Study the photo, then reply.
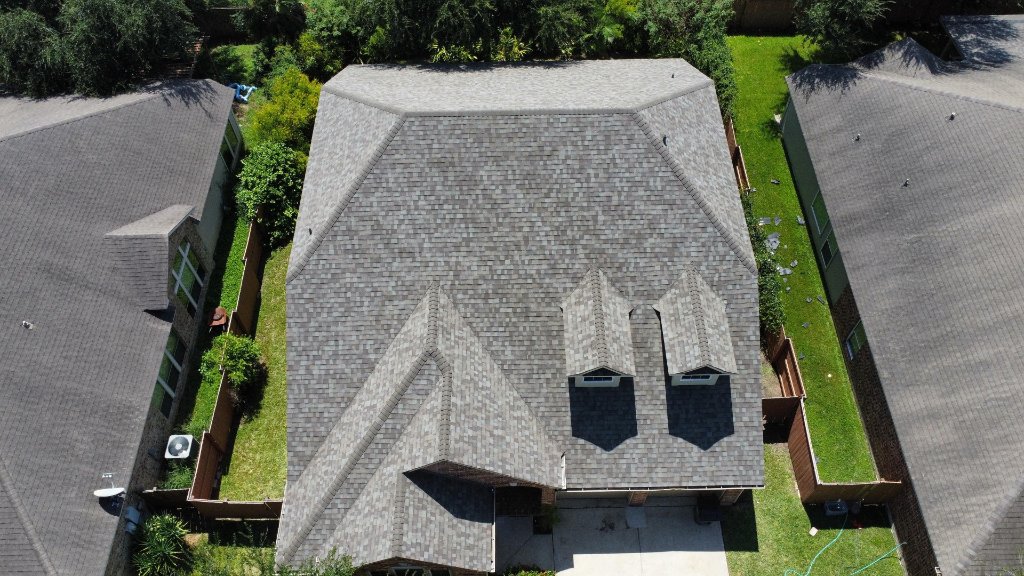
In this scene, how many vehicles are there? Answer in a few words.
none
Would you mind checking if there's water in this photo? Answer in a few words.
No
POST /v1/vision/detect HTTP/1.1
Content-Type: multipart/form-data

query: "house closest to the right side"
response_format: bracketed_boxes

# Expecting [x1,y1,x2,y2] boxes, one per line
[781,17,1024,576]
